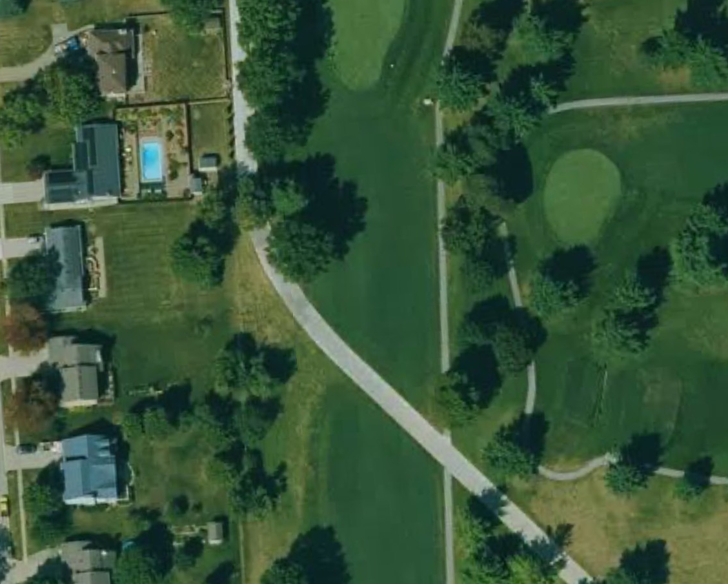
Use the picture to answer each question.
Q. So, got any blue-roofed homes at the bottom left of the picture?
Yes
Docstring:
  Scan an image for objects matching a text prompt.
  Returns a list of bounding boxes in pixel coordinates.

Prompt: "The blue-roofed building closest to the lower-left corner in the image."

[62,434,131,504]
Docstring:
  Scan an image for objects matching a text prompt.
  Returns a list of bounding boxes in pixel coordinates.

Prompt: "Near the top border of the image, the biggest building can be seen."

[91,28,135,101]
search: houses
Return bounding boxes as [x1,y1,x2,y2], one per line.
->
[60,539,116,584]
[45,121,121,208]
[49,335,114,407]
[91,28,135,101]
[46,224,85,313]
[62,434,131,504]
